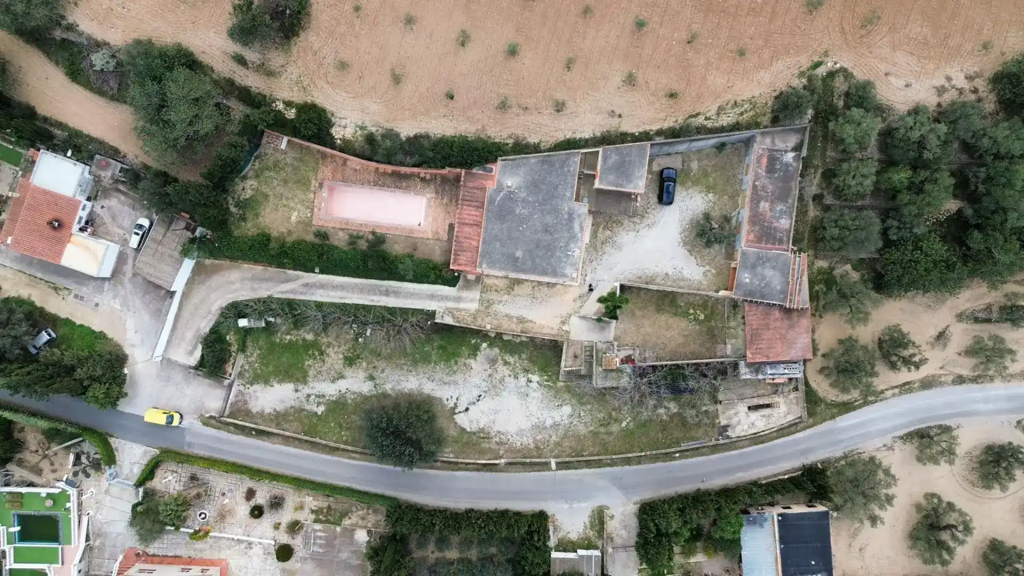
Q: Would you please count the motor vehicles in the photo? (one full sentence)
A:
I count 4 motor vehicles.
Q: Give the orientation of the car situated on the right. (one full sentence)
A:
Seen from above, the car situated on the right lies from top to bottom.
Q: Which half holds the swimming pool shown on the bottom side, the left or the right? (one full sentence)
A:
It is on the left.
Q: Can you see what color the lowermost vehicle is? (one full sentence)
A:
In this view, the lowermost vehicle is yellow.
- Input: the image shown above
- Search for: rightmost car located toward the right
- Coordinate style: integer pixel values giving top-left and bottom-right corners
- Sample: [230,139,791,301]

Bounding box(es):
[657,166,678,206]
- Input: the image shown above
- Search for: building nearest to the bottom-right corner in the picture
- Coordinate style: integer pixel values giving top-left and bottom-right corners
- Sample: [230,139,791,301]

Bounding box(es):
[771,502,840,576]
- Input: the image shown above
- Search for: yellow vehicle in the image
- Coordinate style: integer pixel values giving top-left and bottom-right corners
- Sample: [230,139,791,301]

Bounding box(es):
[141,407,182,429]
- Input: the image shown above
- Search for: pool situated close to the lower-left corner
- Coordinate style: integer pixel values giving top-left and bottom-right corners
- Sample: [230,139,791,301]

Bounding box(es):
[8,512,63,545]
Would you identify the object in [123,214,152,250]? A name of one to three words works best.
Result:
car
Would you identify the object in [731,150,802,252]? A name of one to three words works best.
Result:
shed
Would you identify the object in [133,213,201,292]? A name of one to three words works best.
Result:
shed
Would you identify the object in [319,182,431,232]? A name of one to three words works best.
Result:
swimming pool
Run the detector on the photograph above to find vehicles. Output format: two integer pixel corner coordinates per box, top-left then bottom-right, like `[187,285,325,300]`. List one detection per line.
[141,407,182,429]
[22,326,57,357]
[123,214,152,250]
[657,166,678,206]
